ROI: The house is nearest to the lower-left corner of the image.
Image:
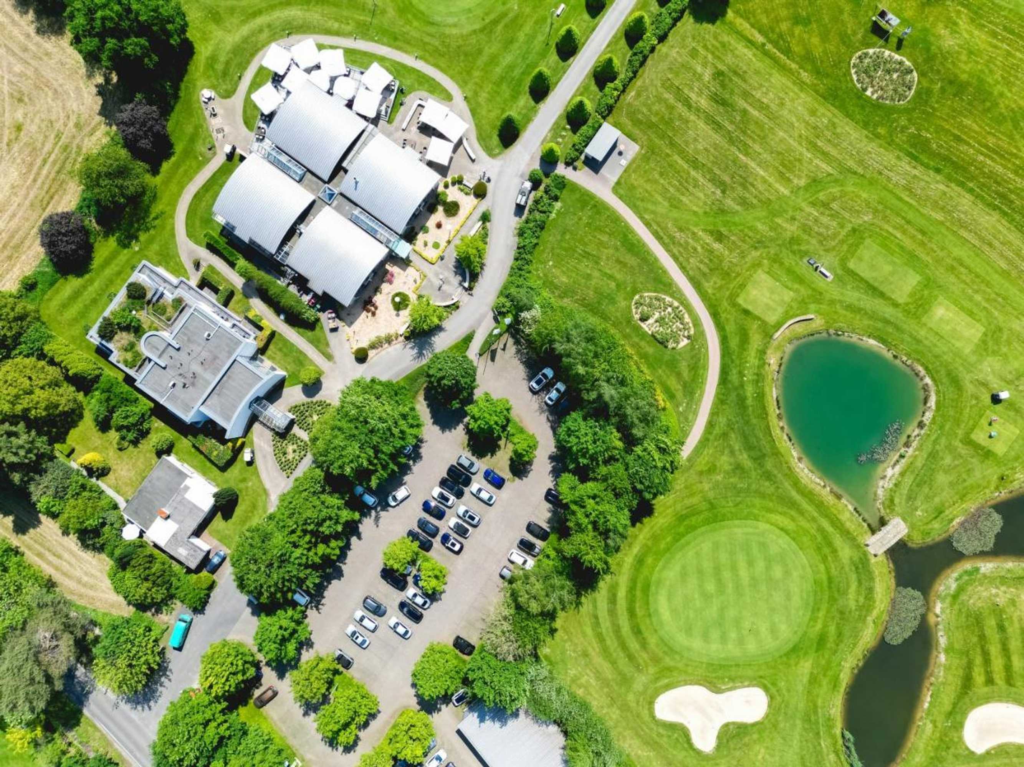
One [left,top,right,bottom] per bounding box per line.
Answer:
[122,456,220,570]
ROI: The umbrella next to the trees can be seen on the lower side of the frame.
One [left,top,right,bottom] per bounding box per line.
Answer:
[123,524,140,539]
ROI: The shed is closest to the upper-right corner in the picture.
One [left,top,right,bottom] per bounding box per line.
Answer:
[585,123,621,165]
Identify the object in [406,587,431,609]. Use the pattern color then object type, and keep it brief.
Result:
white car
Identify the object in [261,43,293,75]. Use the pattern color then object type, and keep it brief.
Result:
white umbrella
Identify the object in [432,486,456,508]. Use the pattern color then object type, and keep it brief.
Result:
white car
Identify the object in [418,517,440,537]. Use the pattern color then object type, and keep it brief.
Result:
blue car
